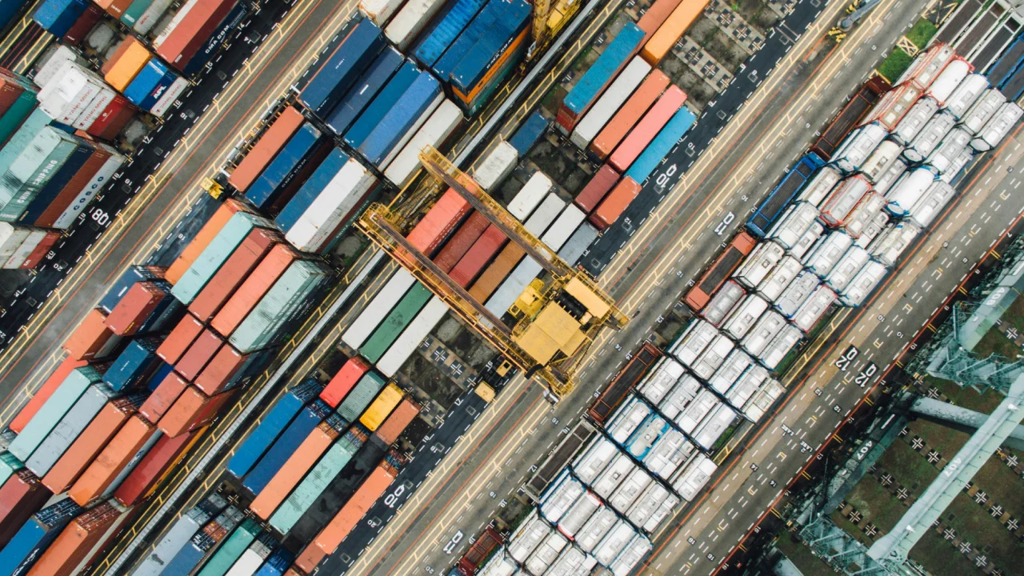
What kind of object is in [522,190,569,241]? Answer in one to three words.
shipping container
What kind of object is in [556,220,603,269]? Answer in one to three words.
shipping container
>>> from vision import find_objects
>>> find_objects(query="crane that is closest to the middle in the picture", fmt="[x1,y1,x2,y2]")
[352,137,625,400]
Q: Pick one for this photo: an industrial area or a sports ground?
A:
industrial area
